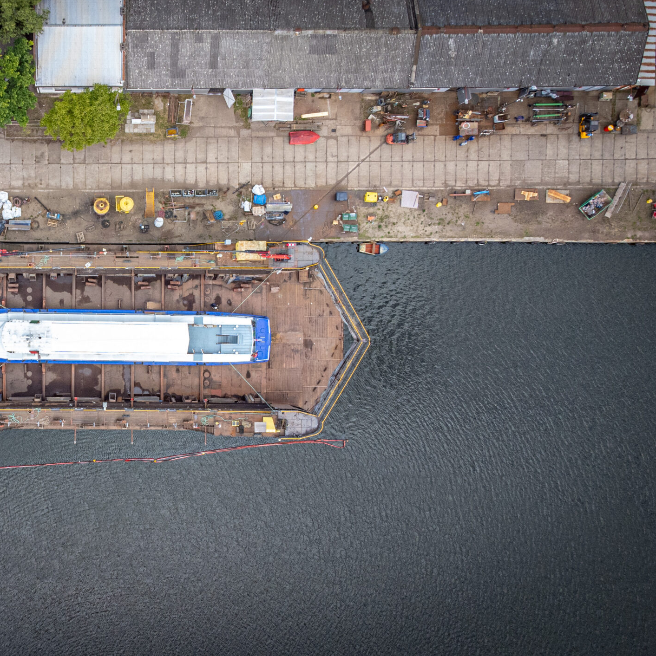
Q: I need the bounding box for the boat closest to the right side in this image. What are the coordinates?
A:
[354,243,388,255]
